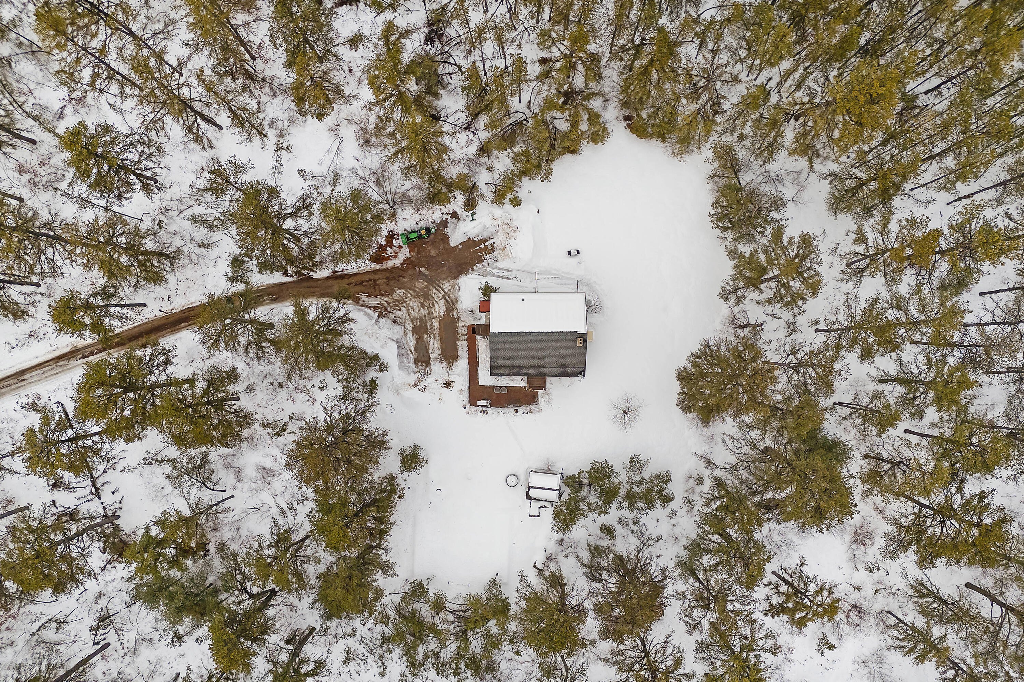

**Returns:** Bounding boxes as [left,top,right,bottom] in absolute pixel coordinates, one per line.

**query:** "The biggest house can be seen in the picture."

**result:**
[489,292,589,377]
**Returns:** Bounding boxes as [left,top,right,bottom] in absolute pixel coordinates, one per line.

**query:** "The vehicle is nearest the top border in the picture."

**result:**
[401,224,436,246]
